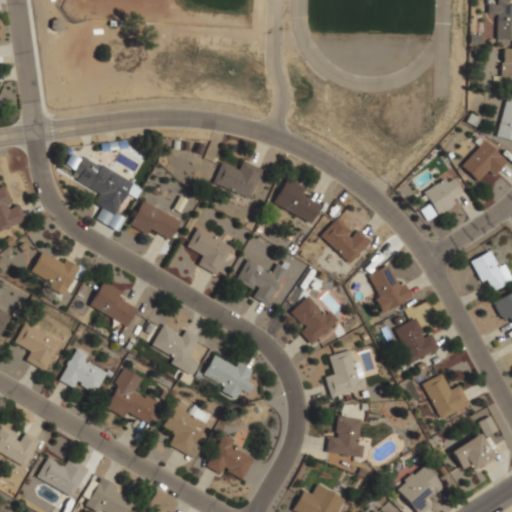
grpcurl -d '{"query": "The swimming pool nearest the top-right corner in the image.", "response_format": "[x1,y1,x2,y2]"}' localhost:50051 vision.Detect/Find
[415,172,432,188]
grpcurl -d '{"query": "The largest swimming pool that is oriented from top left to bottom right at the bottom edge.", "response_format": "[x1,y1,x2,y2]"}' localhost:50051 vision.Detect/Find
[36,484,64,508]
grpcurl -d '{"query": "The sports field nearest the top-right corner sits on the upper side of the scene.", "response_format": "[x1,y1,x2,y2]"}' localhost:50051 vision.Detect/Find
[308,0,434,38]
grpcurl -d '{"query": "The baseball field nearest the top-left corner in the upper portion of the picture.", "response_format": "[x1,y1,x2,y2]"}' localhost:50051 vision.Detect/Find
[64,0,252,20]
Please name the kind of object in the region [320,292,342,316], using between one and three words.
swimming pool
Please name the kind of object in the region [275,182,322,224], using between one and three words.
house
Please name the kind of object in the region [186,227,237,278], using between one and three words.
house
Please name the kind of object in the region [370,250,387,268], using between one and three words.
camper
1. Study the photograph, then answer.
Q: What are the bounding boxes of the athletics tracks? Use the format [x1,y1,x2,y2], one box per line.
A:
[292,0,450,98]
